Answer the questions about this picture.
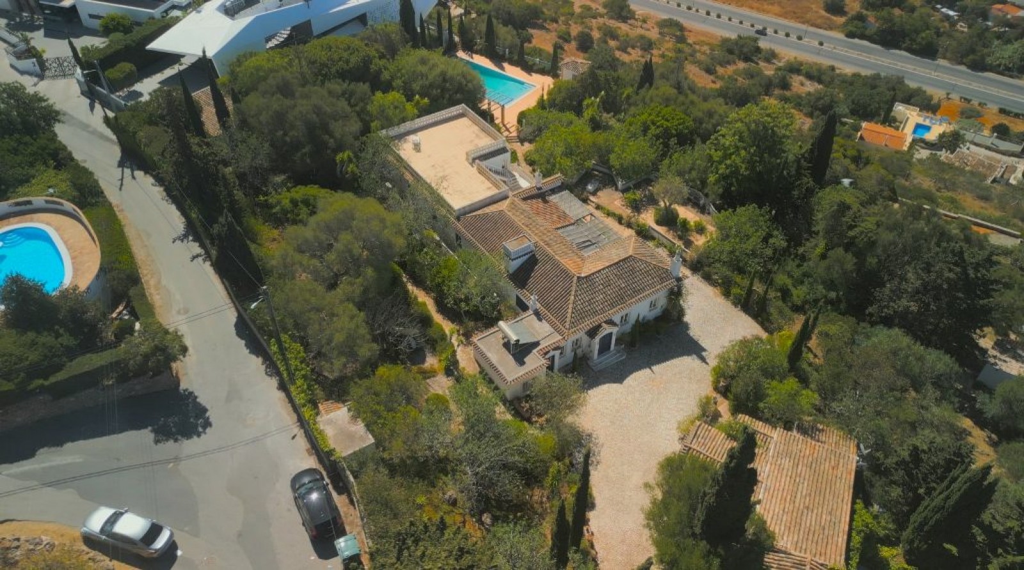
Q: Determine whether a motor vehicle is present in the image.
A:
Yes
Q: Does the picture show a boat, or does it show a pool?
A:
pool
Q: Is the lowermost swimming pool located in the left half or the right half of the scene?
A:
left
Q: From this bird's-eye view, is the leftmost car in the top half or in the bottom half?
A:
bottom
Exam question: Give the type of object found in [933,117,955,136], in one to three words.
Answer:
umbrella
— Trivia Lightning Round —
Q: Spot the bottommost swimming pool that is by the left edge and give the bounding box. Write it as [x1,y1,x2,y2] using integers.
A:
[0,214,107,349]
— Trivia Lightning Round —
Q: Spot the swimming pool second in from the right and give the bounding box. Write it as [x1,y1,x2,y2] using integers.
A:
[441,49,554,158]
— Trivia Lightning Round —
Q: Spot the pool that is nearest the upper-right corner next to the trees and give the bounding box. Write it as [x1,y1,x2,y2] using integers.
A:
[901,116,949,149]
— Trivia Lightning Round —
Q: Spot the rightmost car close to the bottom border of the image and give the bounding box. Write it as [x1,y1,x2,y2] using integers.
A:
[293,471,343,546]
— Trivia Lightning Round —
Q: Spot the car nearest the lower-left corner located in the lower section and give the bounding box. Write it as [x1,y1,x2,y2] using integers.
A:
[89,510,173,564]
